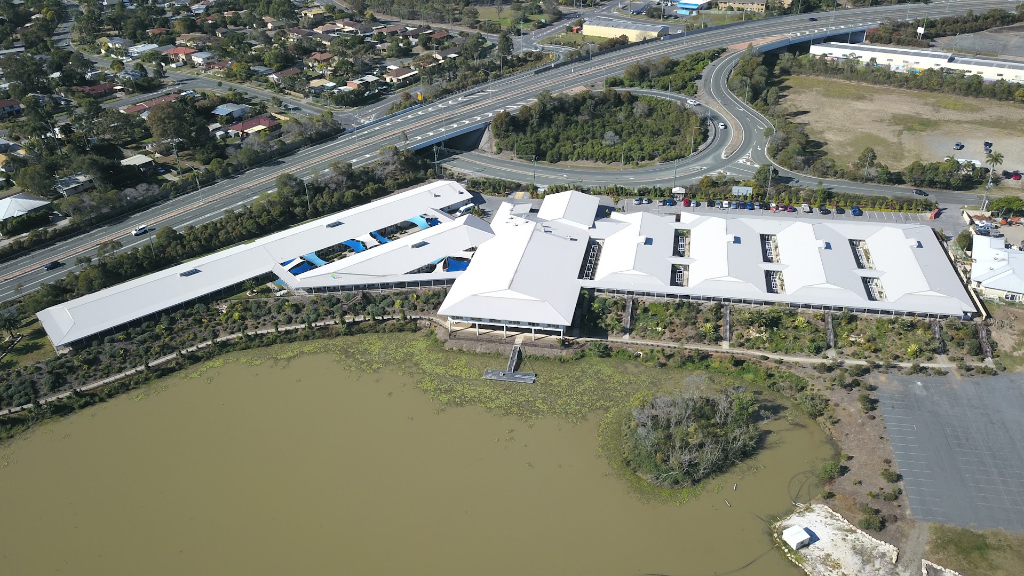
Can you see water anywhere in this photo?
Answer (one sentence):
Yes, some water is visible.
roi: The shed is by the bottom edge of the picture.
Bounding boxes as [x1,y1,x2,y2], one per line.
[782,525,810,553]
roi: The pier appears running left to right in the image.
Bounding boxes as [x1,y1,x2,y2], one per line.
[483,368,536,383]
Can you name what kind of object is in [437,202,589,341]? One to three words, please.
building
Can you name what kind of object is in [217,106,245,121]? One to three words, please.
house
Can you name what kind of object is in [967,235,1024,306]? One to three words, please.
building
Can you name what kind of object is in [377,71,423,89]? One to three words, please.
house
